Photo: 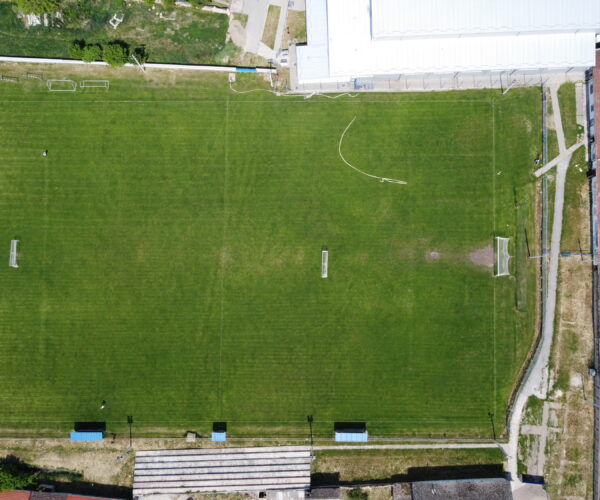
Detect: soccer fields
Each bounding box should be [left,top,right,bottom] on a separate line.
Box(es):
[0,91,530,432]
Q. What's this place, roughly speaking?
sports ground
